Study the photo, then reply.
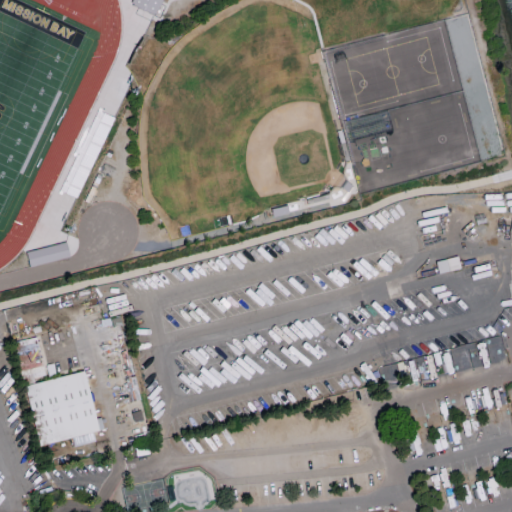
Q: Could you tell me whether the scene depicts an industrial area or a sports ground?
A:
sports ground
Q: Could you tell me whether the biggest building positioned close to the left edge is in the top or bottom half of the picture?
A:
bottom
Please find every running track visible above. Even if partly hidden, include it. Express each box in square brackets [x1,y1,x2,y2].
[0,0,121,270]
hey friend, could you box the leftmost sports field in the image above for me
[0,0,100,242]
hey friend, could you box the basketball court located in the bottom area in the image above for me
[122,480,169,512]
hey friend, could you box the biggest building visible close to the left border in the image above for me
[25,371,99,448]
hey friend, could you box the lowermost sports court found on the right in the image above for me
[346,90,479,192]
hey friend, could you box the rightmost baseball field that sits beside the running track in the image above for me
[140,0,346,240]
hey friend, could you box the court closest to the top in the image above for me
[324,20,463,120]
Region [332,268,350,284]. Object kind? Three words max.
camper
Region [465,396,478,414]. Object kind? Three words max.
vehicle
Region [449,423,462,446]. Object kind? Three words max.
vehicle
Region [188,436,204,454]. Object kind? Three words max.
camper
